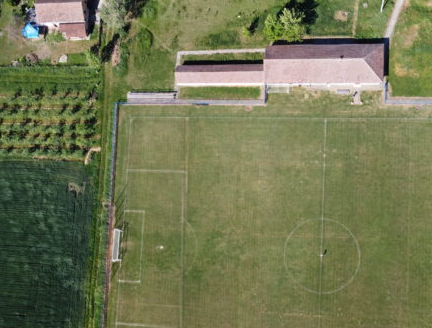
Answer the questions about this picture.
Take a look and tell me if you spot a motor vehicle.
No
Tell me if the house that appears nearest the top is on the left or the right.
left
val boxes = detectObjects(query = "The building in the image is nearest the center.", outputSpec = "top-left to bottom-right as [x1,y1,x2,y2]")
[174,64,263,87]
